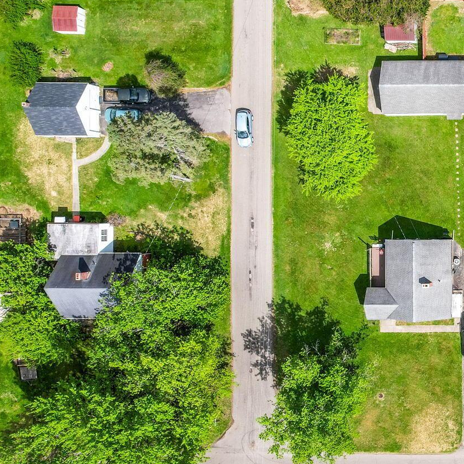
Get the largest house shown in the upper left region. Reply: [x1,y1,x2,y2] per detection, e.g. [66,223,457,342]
[16,81,100,137]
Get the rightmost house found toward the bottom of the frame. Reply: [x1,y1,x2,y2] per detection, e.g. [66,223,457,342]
[359,239,463,325]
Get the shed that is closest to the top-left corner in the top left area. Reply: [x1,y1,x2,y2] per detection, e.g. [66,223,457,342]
[48,6,89,34]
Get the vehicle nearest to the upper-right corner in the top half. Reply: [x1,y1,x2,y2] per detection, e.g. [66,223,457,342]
[233,108,255,147]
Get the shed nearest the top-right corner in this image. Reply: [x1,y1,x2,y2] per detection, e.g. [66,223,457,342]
[383,19,419,45]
